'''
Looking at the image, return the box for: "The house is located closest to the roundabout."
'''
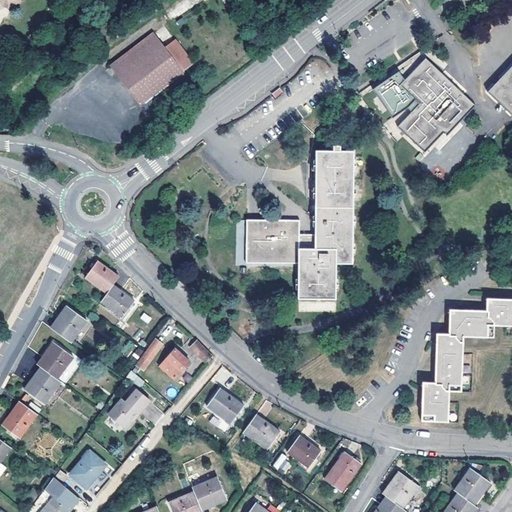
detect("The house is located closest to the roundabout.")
[85,260,118,293]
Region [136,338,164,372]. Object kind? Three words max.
shed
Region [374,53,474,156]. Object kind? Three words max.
building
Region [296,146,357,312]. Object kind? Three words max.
building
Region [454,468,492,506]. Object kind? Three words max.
house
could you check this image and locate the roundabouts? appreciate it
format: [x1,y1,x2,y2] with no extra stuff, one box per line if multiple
[56,167,130,240]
